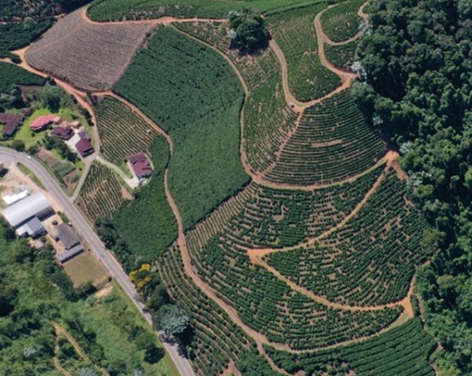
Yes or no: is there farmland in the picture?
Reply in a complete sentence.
Yes, there is farmland in the image.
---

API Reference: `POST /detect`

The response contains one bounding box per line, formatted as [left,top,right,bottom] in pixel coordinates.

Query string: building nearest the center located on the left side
[128,153,149,184]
